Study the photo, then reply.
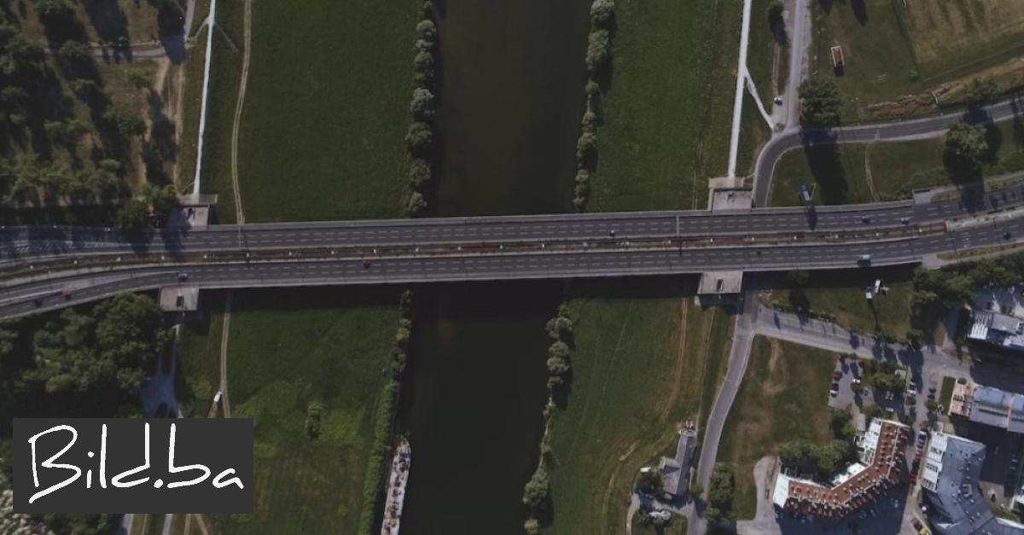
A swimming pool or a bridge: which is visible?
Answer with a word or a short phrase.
bridge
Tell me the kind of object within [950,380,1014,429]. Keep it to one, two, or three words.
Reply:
house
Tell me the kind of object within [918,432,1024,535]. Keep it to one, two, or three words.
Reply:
building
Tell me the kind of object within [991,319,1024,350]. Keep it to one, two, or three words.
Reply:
house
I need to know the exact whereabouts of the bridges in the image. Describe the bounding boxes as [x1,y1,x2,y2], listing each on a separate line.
[108,200,916,296]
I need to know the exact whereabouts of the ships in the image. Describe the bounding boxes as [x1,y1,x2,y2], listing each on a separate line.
[378,438,410,535]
